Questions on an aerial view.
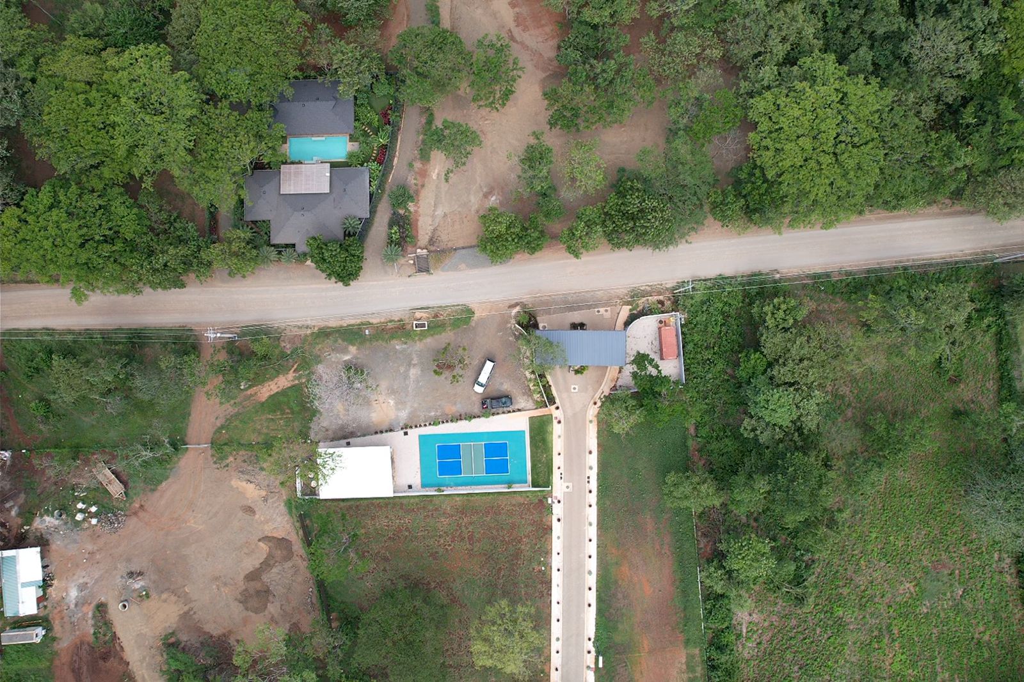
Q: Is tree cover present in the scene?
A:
Yes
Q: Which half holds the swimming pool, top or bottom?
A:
top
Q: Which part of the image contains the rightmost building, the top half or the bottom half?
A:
bottom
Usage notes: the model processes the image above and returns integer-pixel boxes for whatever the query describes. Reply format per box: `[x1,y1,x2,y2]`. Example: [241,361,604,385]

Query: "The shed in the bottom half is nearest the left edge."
[0,545,51,617]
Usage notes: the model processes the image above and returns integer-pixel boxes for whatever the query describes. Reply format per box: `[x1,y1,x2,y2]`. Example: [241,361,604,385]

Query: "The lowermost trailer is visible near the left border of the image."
[1,627,49,645]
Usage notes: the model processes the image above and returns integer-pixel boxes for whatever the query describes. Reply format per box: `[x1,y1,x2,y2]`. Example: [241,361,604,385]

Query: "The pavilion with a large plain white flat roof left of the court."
[318,445,395,500]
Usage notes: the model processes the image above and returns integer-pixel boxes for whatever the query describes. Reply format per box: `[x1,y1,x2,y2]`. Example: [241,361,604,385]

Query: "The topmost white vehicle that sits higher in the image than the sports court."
[475,359,495,393]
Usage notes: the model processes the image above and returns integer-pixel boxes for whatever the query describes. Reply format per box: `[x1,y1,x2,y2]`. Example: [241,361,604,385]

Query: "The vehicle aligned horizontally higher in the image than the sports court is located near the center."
[481,397,512,410]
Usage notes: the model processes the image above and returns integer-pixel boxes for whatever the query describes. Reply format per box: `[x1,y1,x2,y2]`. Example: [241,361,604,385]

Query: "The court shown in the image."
[419,430,529,489]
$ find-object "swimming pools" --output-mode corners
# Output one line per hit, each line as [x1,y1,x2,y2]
[287,134,349,162]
